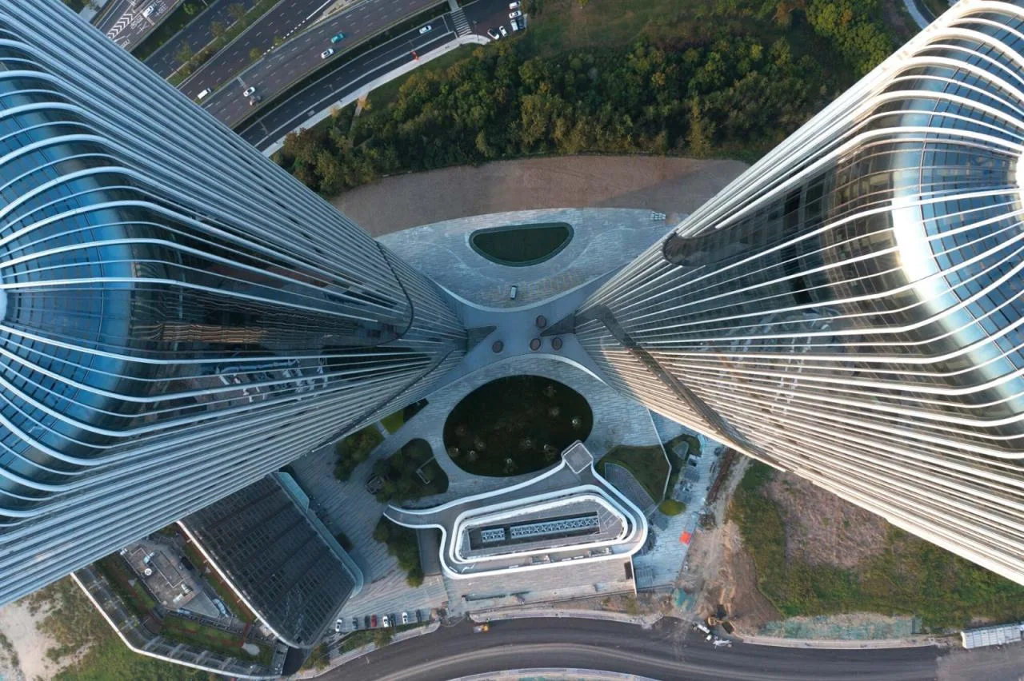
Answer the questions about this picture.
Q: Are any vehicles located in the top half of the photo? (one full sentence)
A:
Yes, there is a vehicle in the top half of the photo.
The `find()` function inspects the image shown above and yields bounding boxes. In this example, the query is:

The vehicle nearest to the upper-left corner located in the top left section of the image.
[139,1,155,18]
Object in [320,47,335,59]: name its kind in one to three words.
vehicle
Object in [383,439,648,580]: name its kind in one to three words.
building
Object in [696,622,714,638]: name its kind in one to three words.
vehicle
